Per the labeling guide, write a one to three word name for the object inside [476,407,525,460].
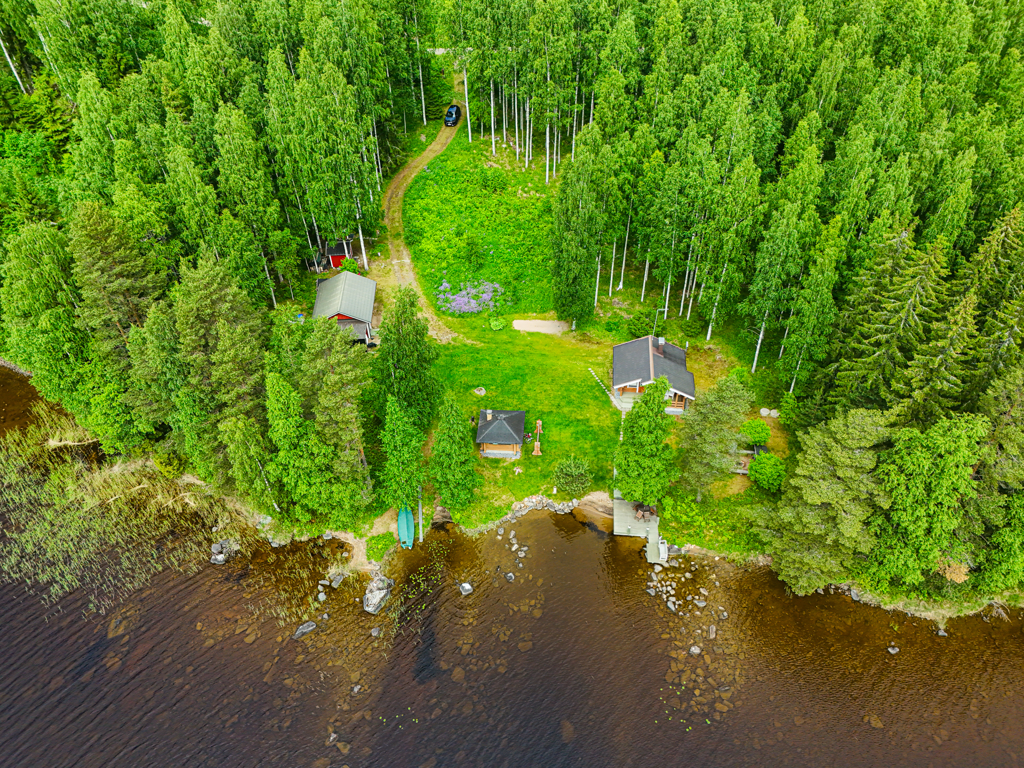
shed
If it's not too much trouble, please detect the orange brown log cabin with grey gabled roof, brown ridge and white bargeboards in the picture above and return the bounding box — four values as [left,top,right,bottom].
[612,336,696,417]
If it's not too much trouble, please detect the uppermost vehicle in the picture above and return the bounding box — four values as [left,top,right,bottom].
[444,107,460,128]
